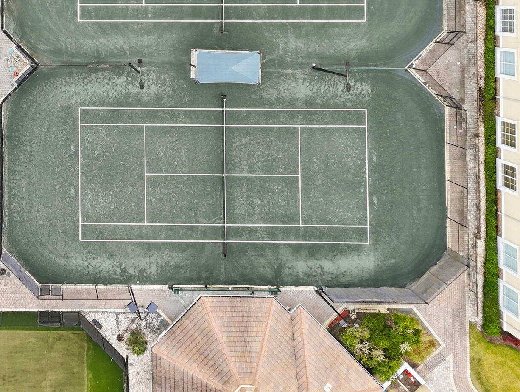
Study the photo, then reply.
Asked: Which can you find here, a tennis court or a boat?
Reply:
tennis court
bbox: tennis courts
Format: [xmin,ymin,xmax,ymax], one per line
[5,0,444,66]
[3,66,446,288]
